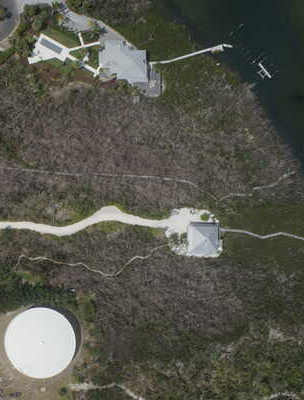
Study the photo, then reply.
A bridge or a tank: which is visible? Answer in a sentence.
There is a tank in the scene.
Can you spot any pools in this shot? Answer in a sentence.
Yes, a pool appears in the view.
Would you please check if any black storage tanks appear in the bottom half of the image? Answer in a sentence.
No, no black storage tank appears in the bottom half of the image.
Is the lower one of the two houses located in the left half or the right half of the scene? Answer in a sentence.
The lower one of the two houses is on the right side of the image.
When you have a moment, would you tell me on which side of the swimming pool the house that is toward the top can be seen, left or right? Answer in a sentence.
In the image, the house that is toward the top sits on the right side of the swimming pool.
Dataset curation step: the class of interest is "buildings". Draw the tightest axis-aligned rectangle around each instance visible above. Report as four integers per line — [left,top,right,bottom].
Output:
[185,223,220,256]
[99,39,160,95]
